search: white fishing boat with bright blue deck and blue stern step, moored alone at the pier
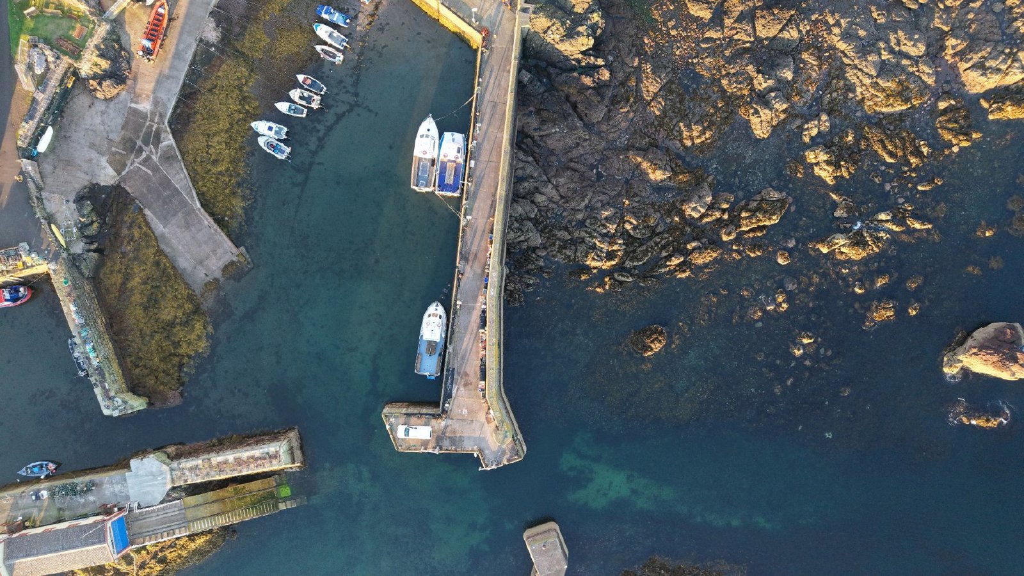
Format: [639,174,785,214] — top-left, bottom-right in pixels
[416,302,449,378]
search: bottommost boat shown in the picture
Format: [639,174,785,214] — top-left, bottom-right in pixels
[17,461,61,477]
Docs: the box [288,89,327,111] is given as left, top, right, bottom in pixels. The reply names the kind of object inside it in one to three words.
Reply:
boat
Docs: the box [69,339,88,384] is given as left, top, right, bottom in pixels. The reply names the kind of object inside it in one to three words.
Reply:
boat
